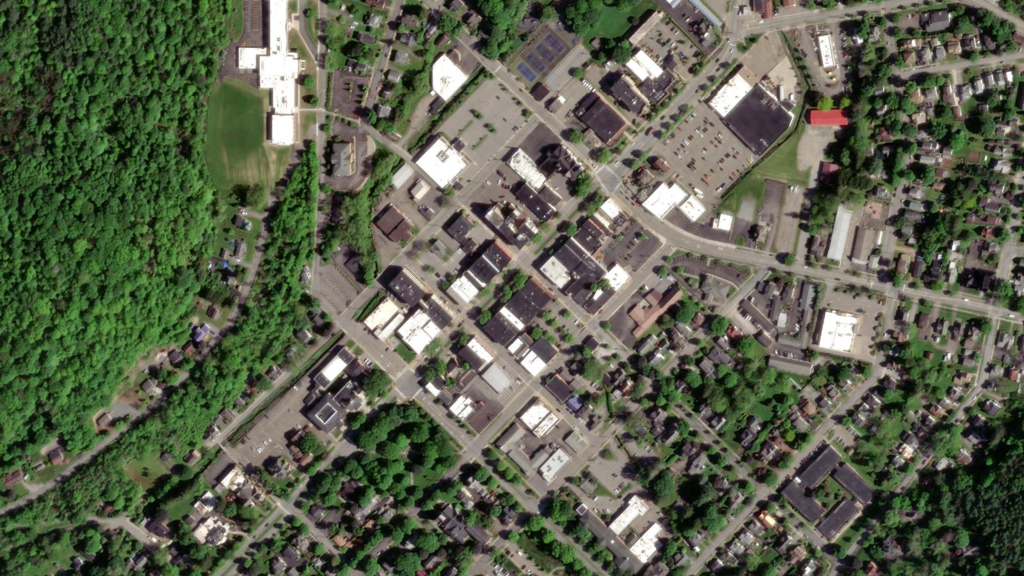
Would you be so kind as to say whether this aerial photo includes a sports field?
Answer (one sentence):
Yes, the image includes a sports field.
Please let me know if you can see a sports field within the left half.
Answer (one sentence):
Yes, you'll find a sports field within the left half.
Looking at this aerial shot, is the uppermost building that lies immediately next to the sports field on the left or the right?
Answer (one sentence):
The uppermost building that lies immediately next to the sports field is on the left side of the image.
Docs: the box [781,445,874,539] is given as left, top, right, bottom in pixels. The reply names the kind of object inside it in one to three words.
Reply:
building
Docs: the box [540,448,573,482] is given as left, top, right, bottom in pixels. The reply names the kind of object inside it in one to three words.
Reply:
building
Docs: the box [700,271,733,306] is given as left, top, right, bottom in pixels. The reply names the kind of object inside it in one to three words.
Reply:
house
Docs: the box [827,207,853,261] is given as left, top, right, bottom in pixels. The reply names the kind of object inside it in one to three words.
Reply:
shed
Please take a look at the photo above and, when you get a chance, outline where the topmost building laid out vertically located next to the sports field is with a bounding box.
[238,0,301,145]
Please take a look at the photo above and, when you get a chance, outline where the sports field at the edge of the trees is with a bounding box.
[219,81,268,192]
